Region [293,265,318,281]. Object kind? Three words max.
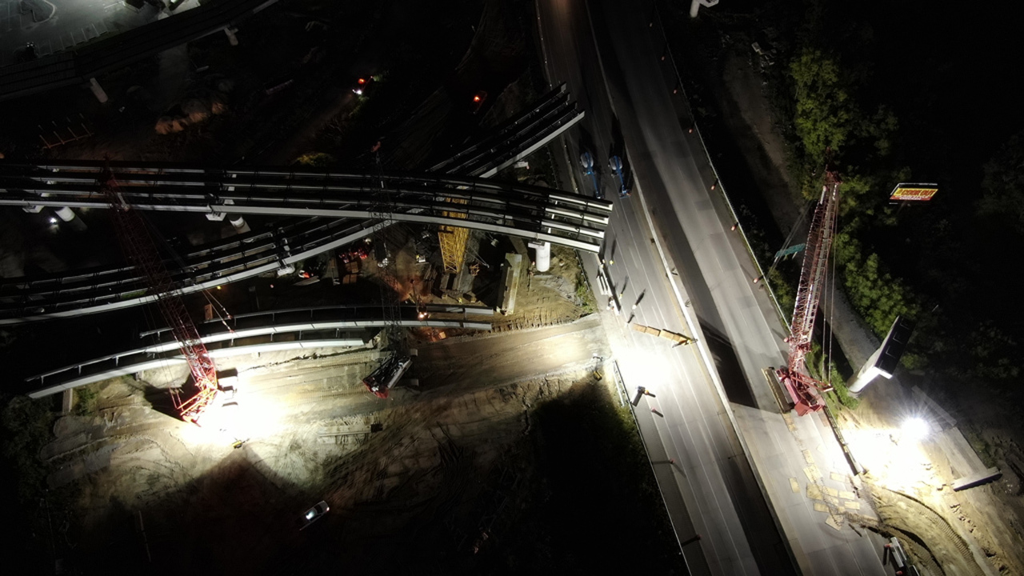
work vehicle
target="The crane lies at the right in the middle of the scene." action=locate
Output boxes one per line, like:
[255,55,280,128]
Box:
[775,168,840,416]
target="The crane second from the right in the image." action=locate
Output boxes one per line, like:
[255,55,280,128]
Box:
[440,185,487,294]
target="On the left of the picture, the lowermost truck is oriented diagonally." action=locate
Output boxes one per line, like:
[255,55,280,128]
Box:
[296,500,329,529]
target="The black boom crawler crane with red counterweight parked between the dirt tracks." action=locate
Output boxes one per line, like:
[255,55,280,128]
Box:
[364,140,418,392]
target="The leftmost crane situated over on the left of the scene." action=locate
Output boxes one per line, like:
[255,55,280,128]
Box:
[104,165,221,427]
